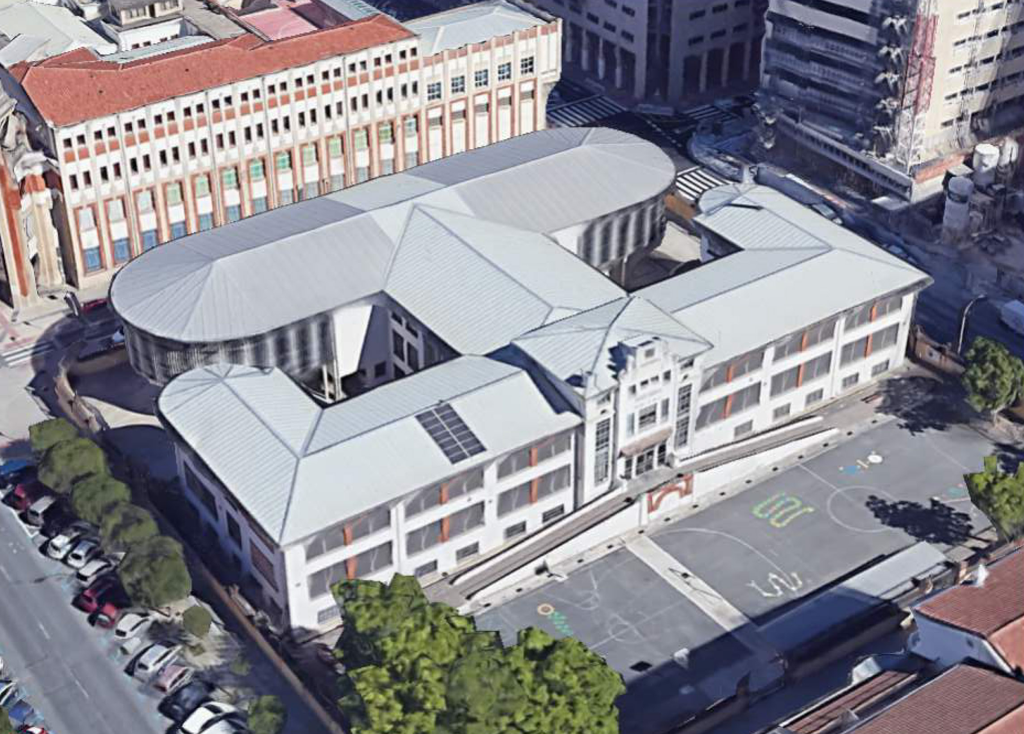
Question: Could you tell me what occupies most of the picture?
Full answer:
For the most part, this view shows buildings.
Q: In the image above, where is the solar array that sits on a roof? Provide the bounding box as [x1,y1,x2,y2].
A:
[413,397,495,468]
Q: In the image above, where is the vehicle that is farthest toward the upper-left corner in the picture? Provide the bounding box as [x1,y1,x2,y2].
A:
[85,287,112,311]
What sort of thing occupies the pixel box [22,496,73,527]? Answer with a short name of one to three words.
car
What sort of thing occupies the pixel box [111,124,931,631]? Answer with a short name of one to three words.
building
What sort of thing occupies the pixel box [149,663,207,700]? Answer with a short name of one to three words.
car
